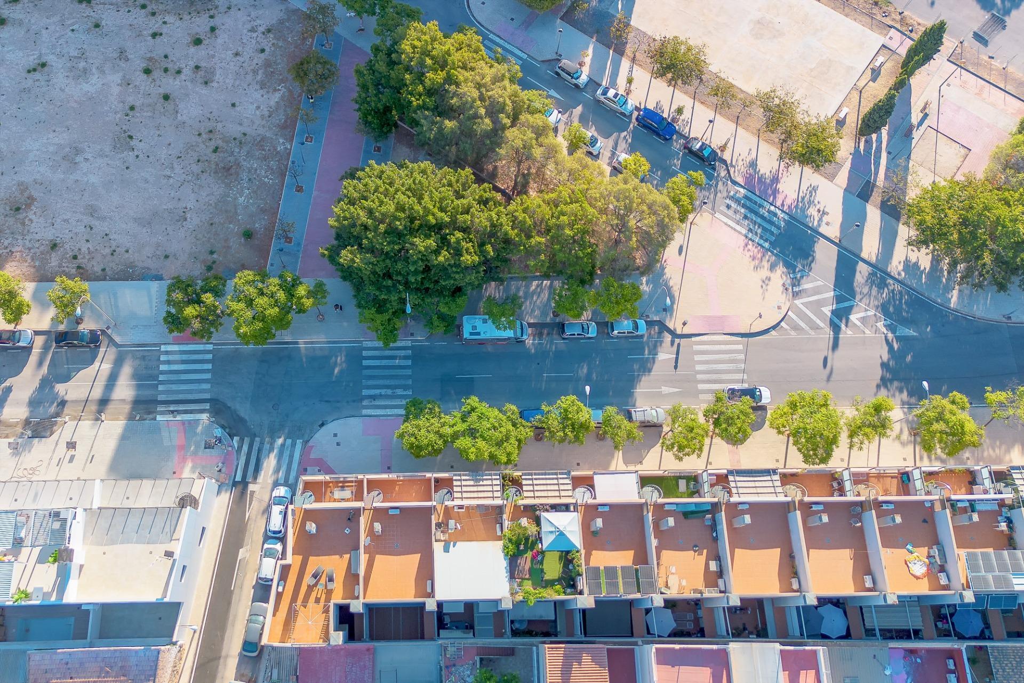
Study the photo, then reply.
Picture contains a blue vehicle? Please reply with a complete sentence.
Yes, the photo shows a blue vehicle.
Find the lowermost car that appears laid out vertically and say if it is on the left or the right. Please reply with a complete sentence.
The lowermost car that appears laid out vertically sits on the left side.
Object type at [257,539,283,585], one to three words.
car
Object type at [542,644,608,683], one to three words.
house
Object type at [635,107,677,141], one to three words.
car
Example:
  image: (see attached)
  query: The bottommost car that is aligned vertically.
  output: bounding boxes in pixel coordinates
[242,602,268,658]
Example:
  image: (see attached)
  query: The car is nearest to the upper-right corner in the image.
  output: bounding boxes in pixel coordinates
[680,136,721,167]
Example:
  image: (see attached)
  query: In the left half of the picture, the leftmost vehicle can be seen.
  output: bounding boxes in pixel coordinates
[0,327,33,348]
